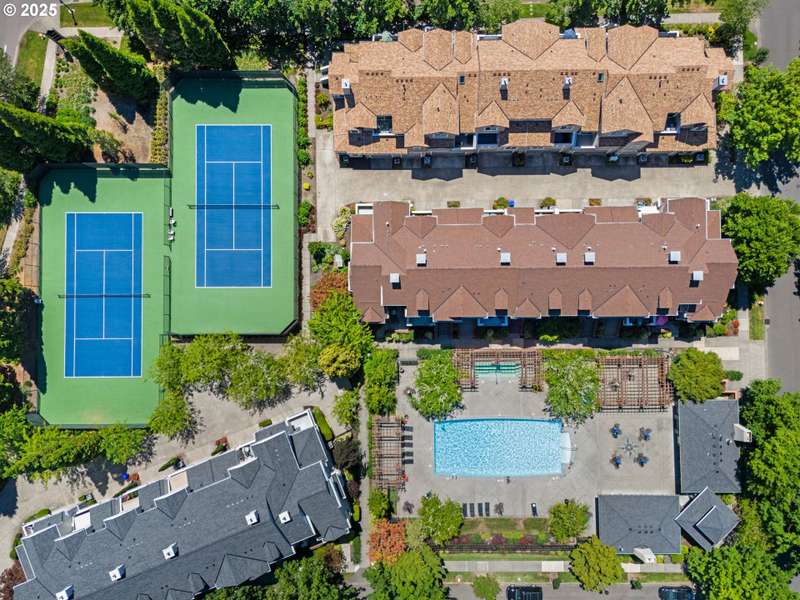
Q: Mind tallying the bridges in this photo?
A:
none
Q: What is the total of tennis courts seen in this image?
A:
2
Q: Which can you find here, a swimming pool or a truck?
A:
swimming pool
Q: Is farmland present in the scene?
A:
No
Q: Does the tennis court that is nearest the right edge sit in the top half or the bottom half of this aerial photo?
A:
top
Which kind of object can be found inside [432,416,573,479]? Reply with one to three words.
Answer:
swimming pool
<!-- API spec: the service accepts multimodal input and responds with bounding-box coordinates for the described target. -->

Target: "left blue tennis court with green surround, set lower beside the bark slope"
[40,170,171,424]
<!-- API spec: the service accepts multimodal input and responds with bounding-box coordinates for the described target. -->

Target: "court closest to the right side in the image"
[171,80,293,334]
